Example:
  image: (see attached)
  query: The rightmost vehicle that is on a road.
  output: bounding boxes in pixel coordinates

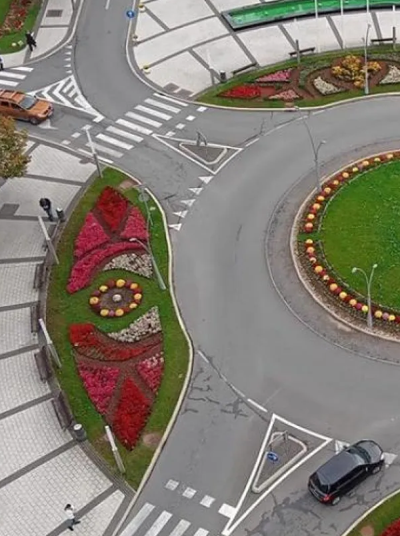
[306,437,386,504]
